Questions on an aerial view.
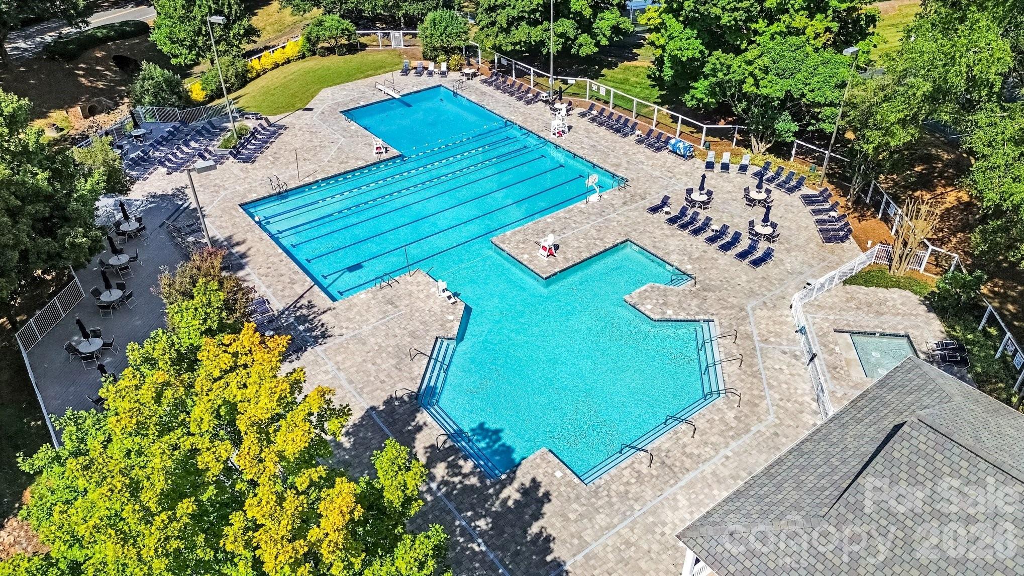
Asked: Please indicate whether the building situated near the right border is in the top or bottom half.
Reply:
bottom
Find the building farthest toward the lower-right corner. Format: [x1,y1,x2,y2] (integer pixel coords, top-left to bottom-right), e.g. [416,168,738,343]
[672,352,1024,576]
